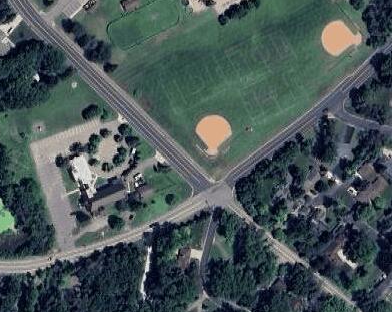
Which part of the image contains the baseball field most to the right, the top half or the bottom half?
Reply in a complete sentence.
The baseball field most to the right is in the top half of the image.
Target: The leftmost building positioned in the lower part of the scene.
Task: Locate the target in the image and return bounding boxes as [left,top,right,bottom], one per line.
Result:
[69,156,130,221]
